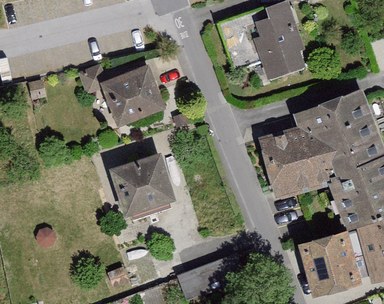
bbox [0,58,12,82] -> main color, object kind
white vehicle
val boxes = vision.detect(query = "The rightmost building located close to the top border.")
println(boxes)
[255,0,306,82]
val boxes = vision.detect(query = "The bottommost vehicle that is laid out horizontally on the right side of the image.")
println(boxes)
[274,210,298,224]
